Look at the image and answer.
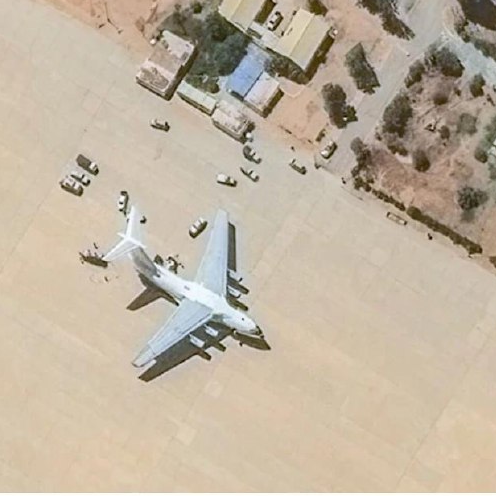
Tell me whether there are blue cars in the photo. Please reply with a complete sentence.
No, no blue car is visible in the scene.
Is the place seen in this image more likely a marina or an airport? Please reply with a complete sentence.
The picture captures an airport.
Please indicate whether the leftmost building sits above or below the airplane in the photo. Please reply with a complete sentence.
You can see the leftmost building above the airplane in the frame.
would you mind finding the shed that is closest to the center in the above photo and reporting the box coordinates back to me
[212,99,248,139]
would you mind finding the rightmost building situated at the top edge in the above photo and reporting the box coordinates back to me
[276,9,330,73]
